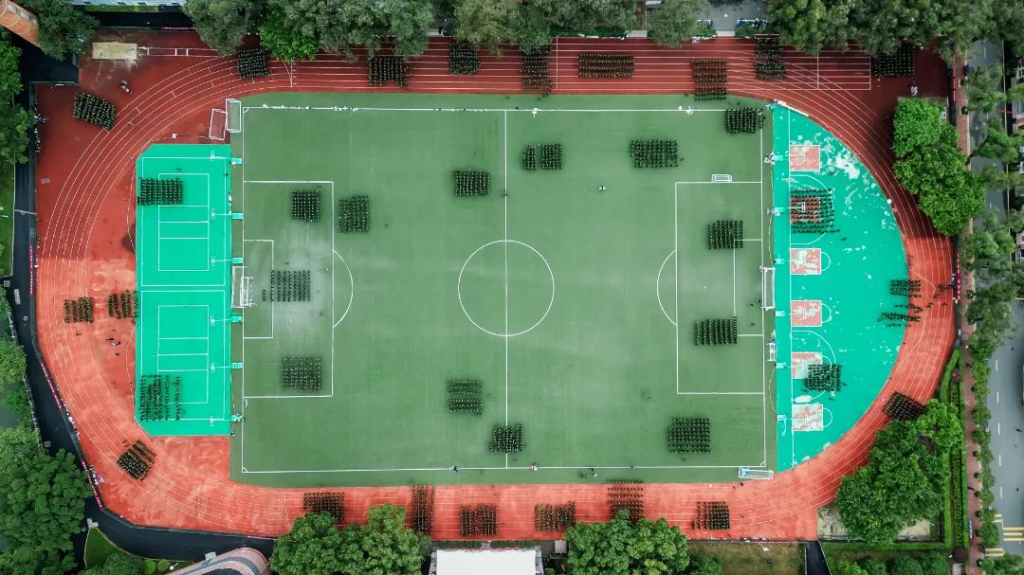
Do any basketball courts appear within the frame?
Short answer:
Yes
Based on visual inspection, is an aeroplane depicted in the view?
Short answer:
No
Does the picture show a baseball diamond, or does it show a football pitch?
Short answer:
football pitch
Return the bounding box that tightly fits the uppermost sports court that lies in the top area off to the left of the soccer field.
[136,144,231,288]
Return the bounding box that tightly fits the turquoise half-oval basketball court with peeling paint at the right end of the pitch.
[774,105,907,471]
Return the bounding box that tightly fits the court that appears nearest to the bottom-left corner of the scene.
[136,288,230,436]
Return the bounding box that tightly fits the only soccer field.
[229,92,777,487]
